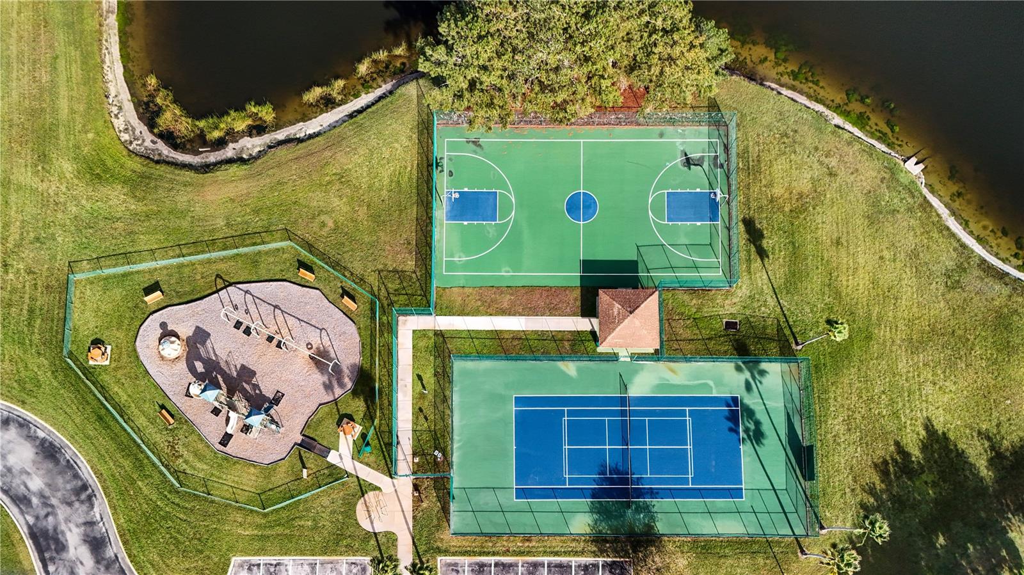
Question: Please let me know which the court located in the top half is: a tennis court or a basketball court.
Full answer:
The court located in the top half in the image is a basketball court.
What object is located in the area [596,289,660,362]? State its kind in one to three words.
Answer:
building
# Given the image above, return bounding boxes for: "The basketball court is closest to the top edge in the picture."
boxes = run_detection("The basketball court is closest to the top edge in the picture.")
[433,126,731,287]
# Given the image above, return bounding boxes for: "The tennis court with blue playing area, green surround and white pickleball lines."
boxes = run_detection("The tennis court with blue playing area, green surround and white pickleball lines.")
[453,361,808,535]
